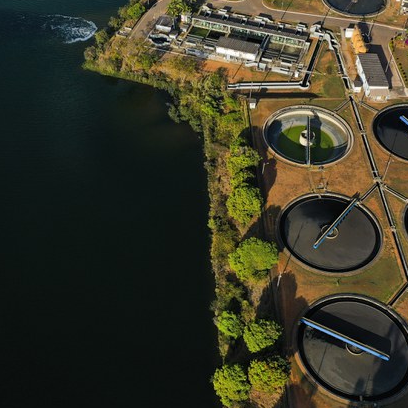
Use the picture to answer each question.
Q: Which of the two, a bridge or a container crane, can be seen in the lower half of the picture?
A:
bridge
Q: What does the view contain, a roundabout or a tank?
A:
tank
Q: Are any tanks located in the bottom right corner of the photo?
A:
Yes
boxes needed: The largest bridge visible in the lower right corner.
[301,316,389,361]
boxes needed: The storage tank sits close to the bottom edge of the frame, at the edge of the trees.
[295,292,408,405]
